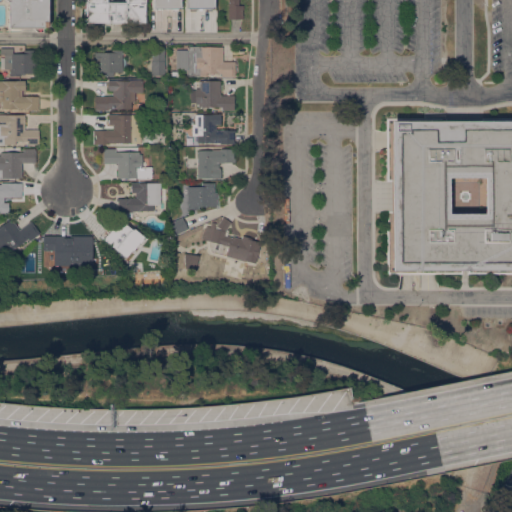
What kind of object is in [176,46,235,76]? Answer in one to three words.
house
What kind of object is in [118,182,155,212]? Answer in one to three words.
house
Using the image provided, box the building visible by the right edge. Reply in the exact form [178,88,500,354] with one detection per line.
[394,120,512,272]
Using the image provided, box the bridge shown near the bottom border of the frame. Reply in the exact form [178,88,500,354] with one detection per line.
[353,371,512,490]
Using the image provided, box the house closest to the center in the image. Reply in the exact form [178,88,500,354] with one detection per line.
[204,220,262,263]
